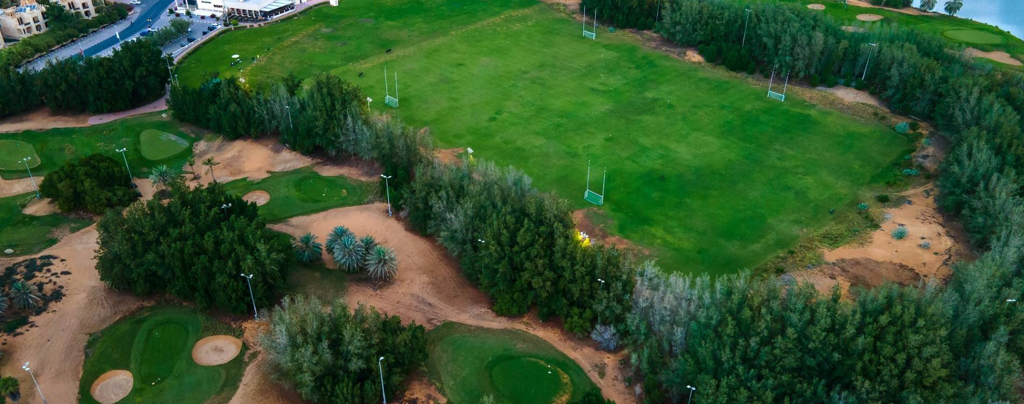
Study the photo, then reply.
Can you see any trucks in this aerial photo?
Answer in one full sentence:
No, I can't see a single truck in this photo.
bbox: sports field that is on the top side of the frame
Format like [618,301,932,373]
[176,0,916,302]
